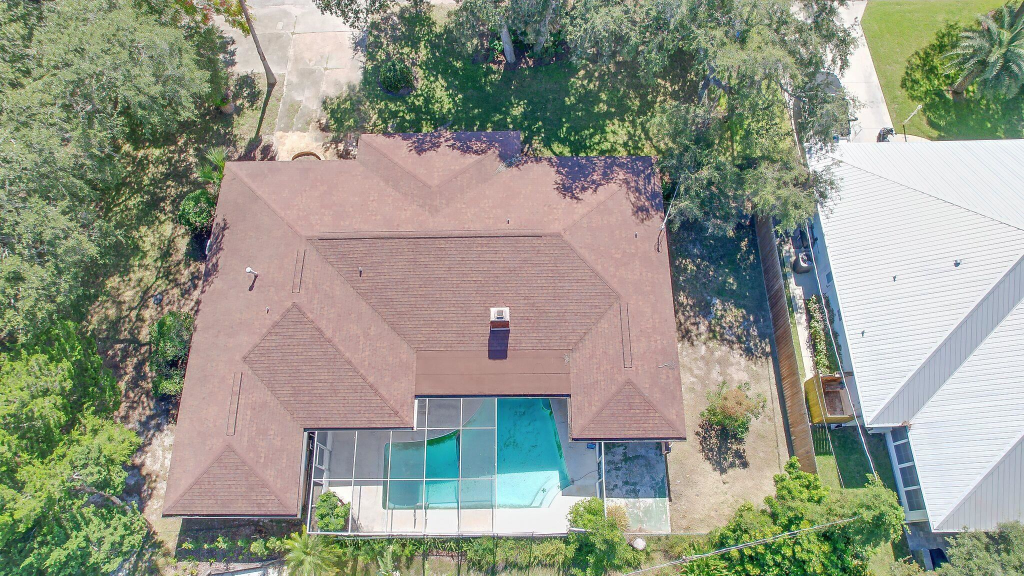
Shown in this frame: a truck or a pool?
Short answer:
pool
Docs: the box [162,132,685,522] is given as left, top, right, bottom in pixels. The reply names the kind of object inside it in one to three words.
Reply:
house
